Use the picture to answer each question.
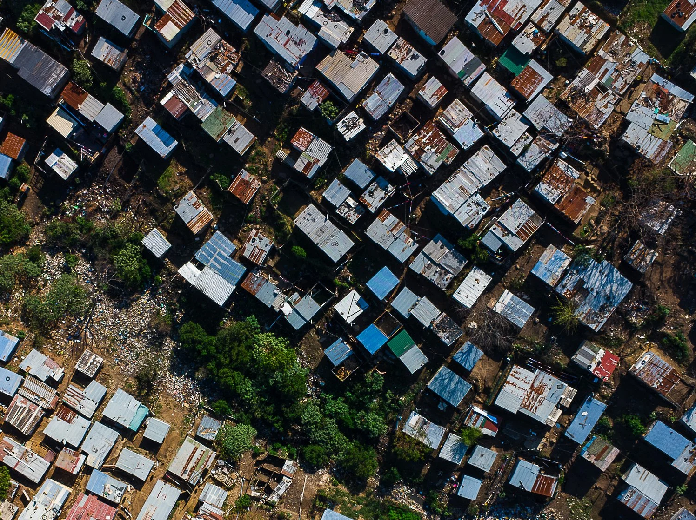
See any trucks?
No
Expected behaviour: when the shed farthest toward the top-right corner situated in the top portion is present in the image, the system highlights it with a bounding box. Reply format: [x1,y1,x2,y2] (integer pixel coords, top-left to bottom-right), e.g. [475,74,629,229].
[656,0,696,37]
